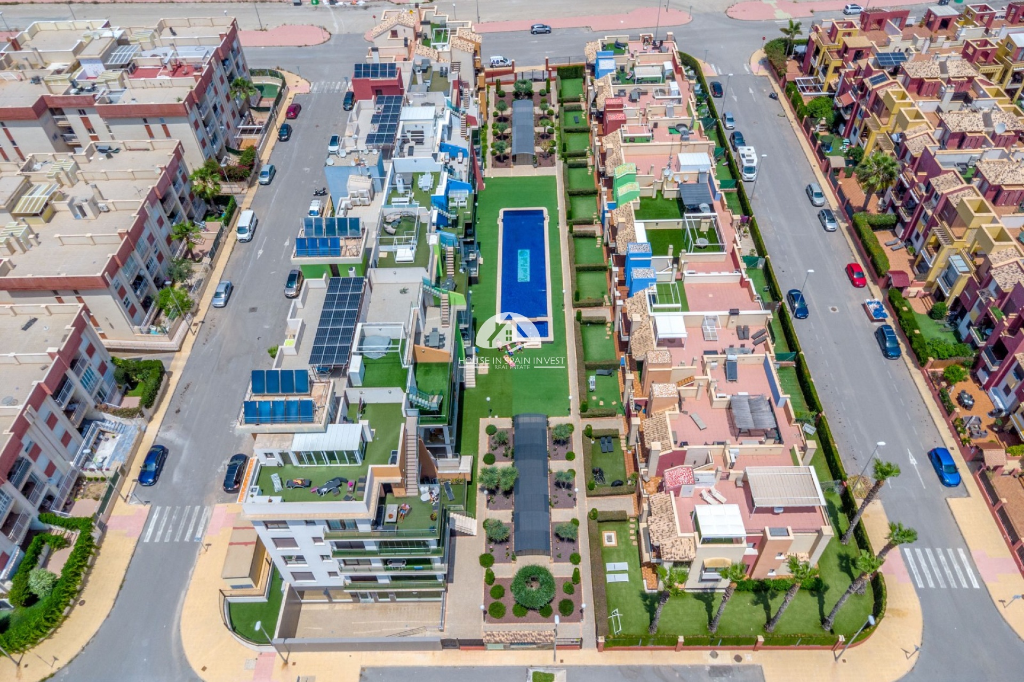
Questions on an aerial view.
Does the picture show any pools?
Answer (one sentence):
Yes, a pool can be made out from above.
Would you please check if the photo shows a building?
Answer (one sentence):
Yes, the photo shows a building.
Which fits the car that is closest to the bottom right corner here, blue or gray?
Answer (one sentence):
The car that is closest to the bottom right corner looks blue in the image.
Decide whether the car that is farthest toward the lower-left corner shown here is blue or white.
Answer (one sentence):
From above, the car that is farthest toward the lower-left corner appears blue.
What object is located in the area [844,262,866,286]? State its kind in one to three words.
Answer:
car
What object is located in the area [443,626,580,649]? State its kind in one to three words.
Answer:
building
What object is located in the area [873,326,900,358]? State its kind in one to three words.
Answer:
car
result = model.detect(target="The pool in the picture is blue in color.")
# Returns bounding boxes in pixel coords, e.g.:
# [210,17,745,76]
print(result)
[494,206,556,348]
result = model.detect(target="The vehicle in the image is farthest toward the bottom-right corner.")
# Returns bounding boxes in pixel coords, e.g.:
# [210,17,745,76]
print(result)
[928,446,961,486]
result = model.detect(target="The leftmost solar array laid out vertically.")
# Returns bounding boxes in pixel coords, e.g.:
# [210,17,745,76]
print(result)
[309,276,365,367]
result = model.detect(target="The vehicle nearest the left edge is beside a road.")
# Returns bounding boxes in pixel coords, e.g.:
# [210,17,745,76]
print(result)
[136,443,167,484]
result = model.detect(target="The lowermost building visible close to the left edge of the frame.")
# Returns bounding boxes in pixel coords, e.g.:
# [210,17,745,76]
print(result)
[0,304,121,591]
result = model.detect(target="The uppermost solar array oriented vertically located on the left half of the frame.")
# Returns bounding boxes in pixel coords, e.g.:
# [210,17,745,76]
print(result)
[362,88,402,155]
